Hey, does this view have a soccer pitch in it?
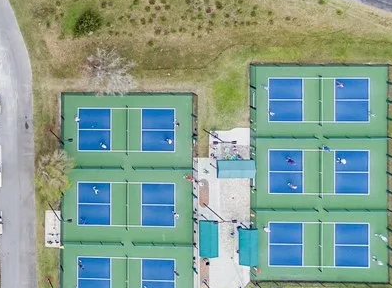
No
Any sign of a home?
No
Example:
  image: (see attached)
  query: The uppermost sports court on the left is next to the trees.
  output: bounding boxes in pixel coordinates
[65,95,193,169]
